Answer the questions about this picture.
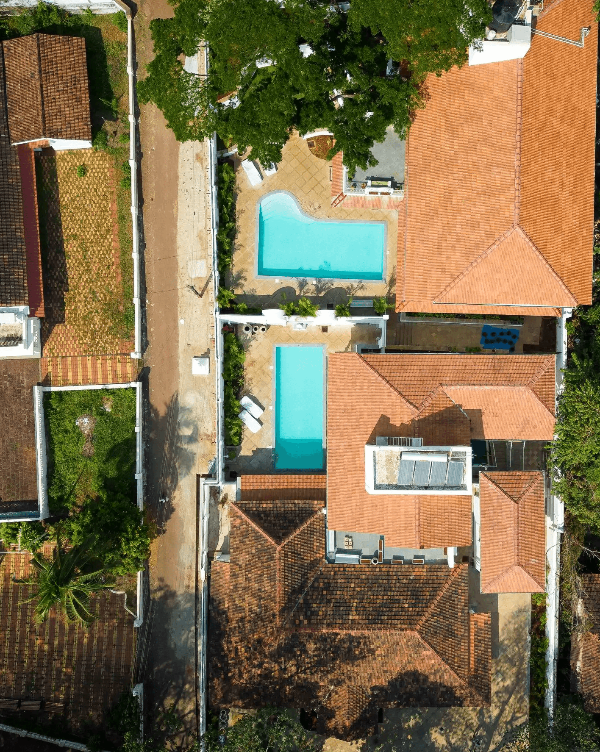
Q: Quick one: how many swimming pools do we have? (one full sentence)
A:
The number of swimming pools here is 2.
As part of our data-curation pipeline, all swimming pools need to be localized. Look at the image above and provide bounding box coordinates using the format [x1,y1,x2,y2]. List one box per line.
[253,189,389,285]
[271,343,327,472]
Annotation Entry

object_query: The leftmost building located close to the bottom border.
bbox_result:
[208,471,492,742]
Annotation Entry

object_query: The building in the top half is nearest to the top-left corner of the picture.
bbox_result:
[2,33,92,157]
